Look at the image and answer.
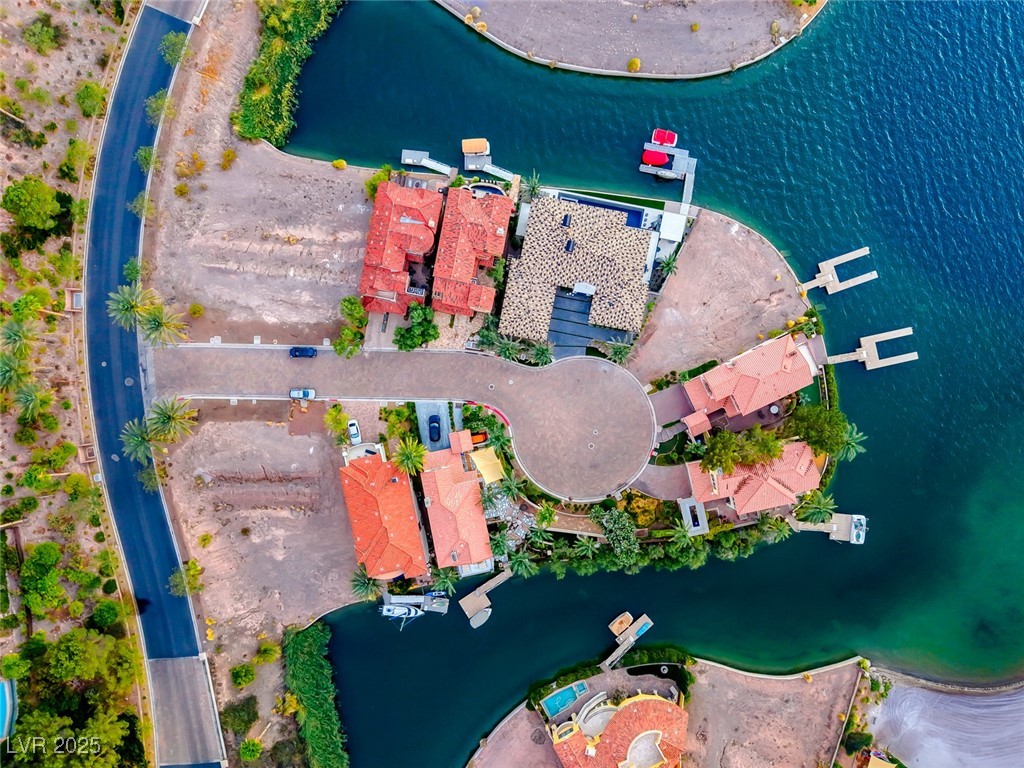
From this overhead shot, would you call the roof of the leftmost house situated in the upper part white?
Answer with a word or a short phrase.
No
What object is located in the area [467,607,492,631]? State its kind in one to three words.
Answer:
boat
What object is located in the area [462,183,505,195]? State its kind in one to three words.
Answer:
swimming pool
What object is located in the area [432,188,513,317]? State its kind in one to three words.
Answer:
house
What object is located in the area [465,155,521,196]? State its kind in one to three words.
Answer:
pier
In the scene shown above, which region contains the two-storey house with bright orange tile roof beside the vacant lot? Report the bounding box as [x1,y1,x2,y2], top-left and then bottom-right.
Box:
[338,441,428,584]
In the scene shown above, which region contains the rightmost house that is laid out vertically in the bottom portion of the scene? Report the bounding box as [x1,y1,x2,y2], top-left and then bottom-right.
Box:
[421,430,495,578]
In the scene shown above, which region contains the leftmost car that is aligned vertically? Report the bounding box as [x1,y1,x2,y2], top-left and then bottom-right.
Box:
[349,418,362,446]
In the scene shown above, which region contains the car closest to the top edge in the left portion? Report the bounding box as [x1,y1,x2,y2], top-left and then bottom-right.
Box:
[289,346,317,359]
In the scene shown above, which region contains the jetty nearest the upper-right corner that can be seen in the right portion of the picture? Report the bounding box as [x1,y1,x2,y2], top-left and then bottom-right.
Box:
[796,247,878,296]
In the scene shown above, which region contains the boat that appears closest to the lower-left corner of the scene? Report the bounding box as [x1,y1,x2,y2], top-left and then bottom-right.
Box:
[379,604,424,627]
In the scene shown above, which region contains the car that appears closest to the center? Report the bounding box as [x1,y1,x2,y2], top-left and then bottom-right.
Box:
[427,415,441,442]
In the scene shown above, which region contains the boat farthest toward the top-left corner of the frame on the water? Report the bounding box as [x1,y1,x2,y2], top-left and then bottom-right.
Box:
[460,136,491,156]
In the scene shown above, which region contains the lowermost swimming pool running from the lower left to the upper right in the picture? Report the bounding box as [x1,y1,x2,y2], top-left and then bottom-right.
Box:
[541,681,589,718]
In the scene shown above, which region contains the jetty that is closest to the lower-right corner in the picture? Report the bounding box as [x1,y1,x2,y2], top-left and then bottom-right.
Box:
[786,513,852,541]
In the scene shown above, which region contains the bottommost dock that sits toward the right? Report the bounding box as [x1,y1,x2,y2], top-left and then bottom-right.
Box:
[601,613,654,671]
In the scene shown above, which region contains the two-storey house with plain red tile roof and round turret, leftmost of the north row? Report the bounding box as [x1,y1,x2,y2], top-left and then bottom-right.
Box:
[360,181,443,316]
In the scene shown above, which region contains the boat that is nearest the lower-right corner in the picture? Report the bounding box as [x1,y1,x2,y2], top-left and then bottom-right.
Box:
[851,515,869,543]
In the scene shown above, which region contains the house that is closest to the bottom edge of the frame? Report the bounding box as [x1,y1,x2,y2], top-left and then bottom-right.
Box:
[551,684,692,768]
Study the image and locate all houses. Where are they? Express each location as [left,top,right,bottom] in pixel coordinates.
[684,442,821,514]
[421,430,495,578]
[432,188,513,317]
[681,334,820,436]
[499,198,660,341]
[338,441,428,584]
[360,181,443,316]
[551,684,692,768]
